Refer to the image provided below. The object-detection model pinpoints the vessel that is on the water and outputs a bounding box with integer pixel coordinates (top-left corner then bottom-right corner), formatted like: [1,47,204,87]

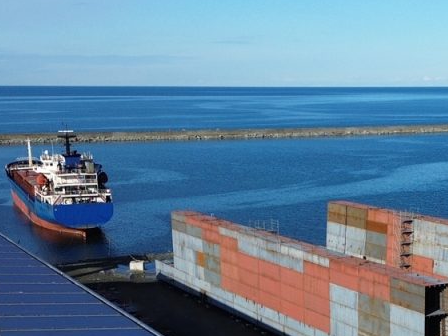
[8,111,114,233]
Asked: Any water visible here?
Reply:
Yes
